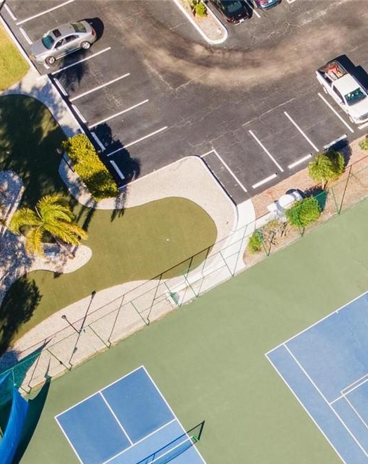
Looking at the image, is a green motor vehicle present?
No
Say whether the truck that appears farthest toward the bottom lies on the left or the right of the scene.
right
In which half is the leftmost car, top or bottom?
top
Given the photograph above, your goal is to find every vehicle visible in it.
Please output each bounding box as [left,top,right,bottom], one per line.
[31,22,97,63]
[317,60,368,122]
[246,0,276,14]
[204,0,246,26]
